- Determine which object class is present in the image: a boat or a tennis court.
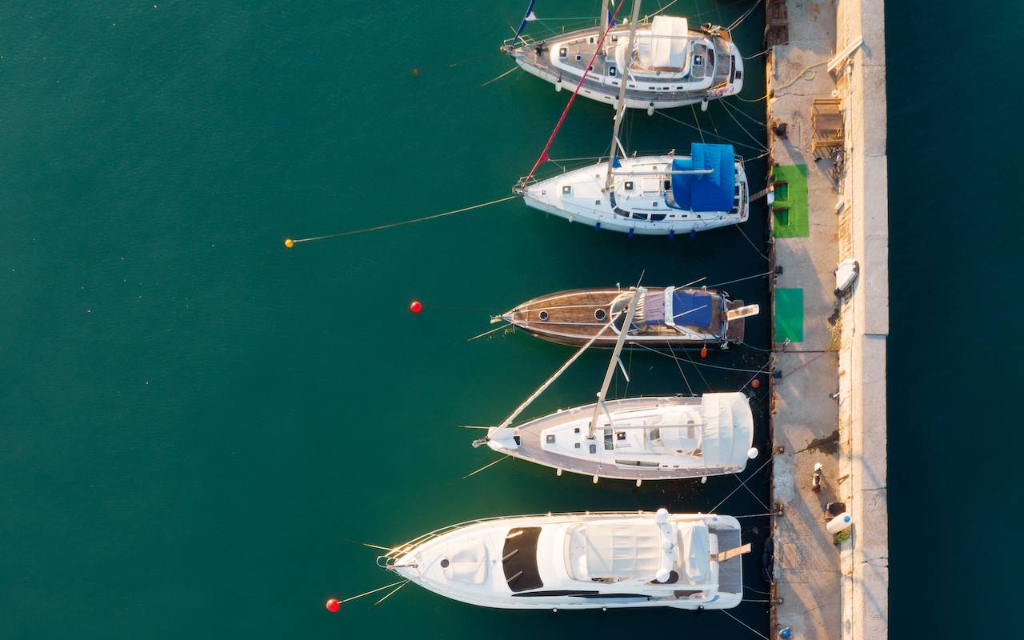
boat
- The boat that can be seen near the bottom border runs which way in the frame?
horizontally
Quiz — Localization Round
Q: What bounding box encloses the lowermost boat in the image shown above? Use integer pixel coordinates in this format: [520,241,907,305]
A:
[377,509,754,611]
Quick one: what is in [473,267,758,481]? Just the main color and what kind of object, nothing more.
white boat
